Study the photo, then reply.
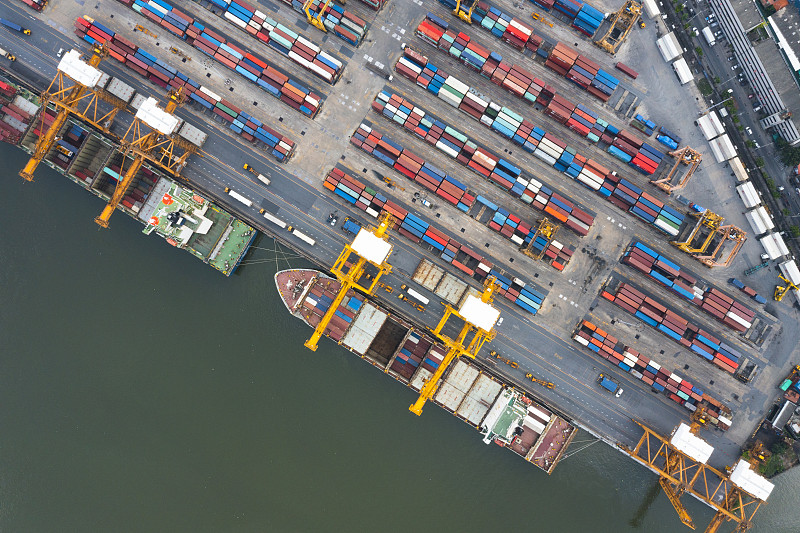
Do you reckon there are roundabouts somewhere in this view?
No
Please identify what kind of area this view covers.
port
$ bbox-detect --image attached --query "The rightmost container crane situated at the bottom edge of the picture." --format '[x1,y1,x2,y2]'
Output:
[671,441,773,533]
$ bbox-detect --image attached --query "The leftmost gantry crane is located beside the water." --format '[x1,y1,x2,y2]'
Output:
[16,39,138,182]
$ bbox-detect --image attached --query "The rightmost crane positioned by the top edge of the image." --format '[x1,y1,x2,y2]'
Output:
[595,0,647,59]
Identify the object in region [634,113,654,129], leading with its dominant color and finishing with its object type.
blue work vehicle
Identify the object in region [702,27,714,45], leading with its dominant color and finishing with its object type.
white vehicle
